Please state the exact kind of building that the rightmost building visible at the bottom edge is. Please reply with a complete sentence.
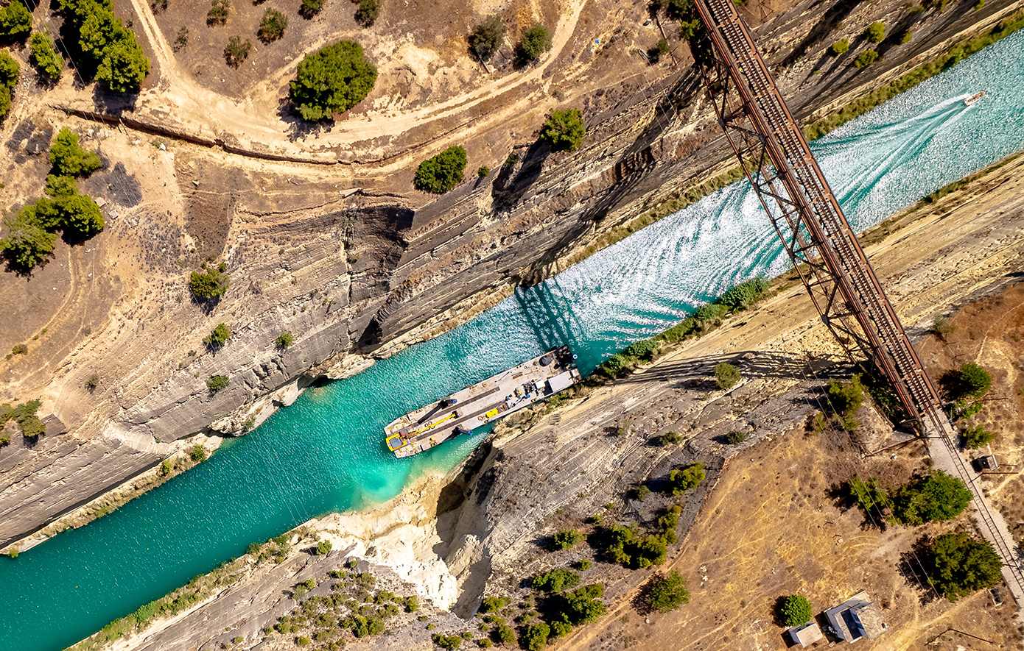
Specifically, the rightmost building visible at the bottom edge is a home.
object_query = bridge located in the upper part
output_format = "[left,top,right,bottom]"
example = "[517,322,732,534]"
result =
[698,0,942,416]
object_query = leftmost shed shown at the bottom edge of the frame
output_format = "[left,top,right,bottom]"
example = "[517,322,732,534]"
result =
[789,622,822,648]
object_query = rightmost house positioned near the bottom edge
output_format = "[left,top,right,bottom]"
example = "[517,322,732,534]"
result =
[816,588,888,644]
